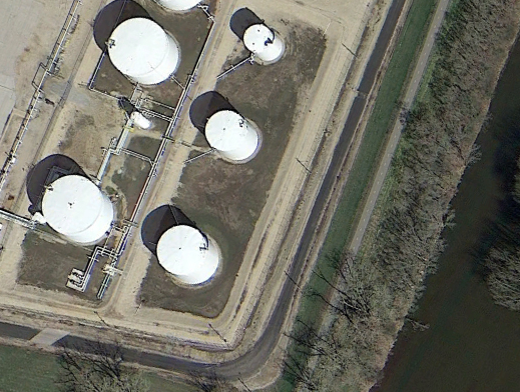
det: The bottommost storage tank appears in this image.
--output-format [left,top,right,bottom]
[157,224,221,287]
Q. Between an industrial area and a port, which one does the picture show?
industrial area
